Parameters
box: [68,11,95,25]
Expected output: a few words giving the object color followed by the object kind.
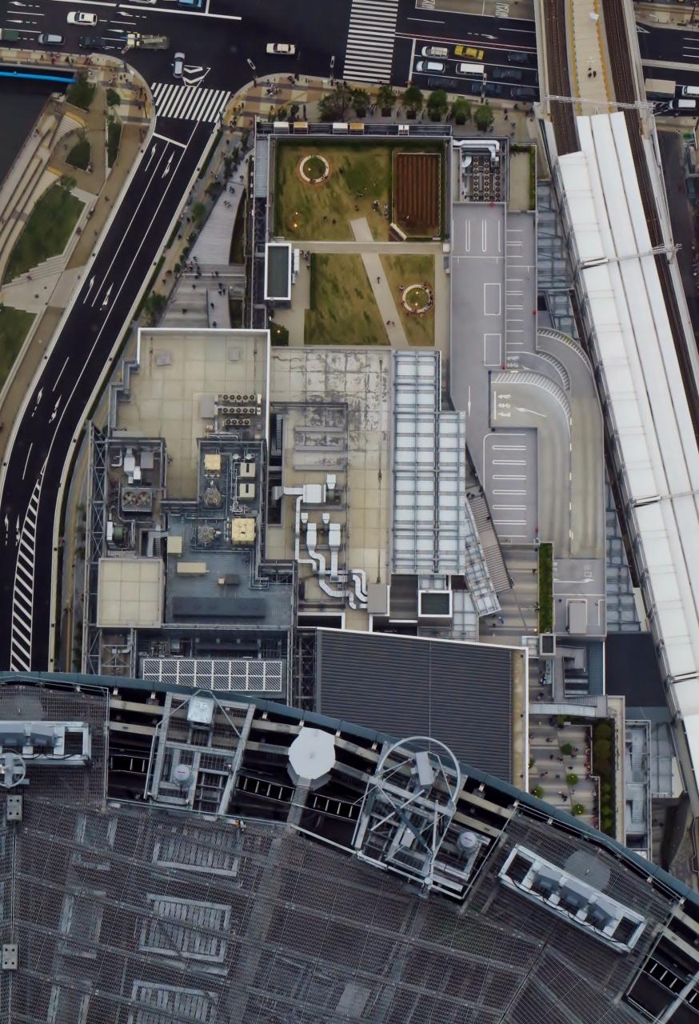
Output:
white car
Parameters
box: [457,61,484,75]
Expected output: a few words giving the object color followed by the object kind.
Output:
white vehicle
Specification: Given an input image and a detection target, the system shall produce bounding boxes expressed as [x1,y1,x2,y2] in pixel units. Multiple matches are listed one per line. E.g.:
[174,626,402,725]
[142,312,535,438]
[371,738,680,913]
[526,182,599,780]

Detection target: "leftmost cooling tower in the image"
[122,487,154,515]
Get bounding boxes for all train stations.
[538,0,699,797]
